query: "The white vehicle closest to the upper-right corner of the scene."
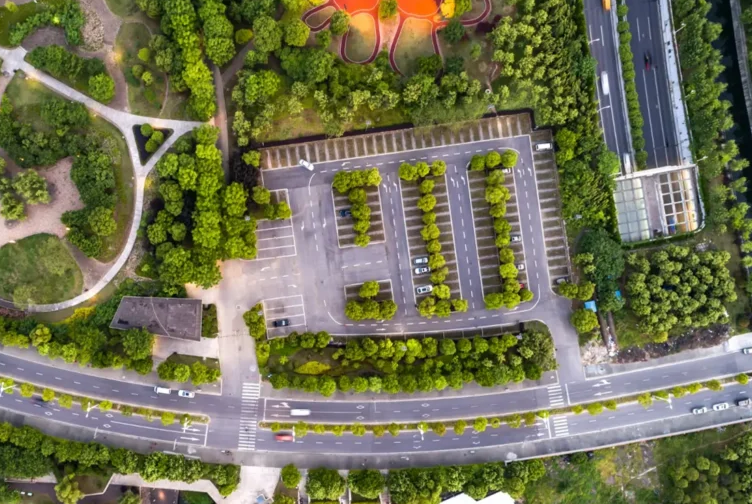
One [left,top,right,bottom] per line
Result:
[599,70,611,94]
